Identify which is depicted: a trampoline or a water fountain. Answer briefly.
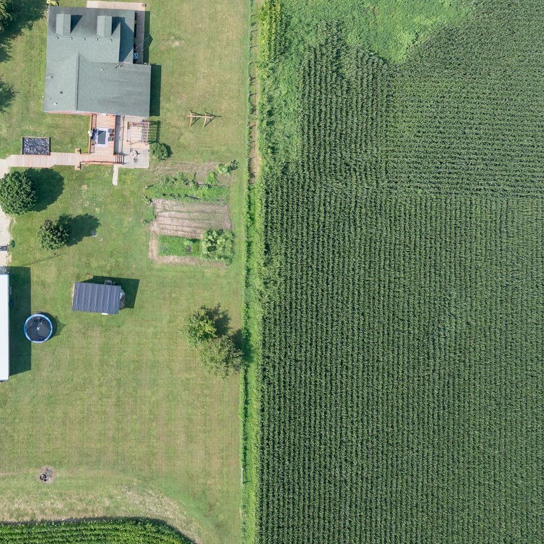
trampoline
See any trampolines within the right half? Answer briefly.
No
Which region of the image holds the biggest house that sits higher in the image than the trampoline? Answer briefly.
top left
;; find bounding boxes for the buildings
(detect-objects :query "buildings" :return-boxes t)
[43,6,152,119]
[73,282,121,315]
[0,274,13,381]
